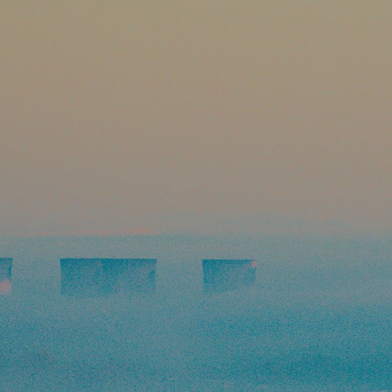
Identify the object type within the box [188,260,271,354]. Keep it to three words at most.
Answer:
cooling tower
